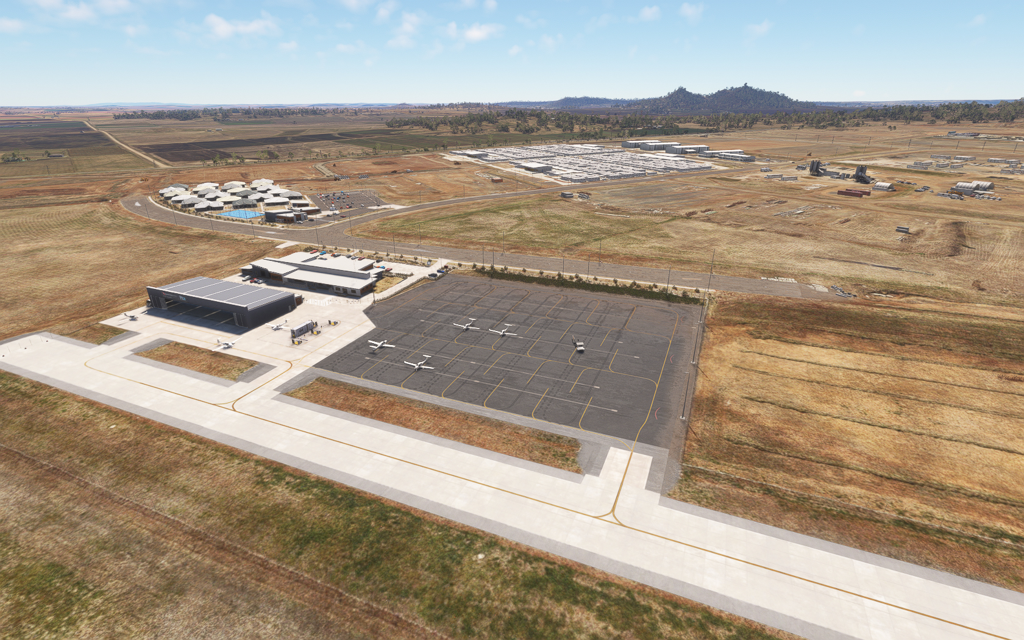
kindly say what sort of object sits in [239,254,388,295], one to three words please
building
